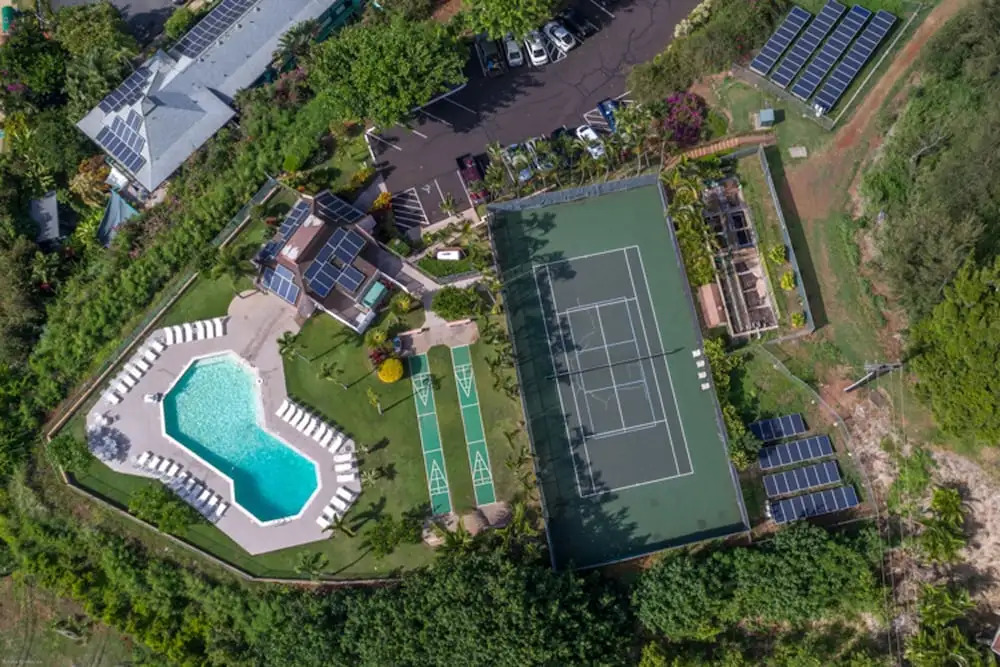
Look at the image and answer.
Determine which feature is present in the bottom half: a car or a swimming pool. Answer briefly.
swimming pool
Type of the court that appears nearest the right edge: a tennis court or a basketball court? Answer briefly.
tennis court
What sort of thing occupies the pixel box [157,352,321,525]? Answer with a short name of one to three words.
swimming pool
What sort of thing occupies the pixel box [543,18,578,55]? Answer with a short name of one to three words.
car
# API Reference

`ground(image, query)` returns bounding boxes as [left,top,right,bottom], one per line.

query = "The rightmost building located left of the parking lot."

[252,188,383,335]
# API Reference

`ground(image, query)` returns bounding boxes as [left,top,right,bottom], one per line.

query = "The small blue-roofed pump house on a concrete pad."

[751,109,774,130]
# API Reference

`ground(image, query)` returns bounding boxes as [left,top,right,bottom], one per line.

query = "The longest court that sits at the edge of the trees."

[489,185,741,564]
